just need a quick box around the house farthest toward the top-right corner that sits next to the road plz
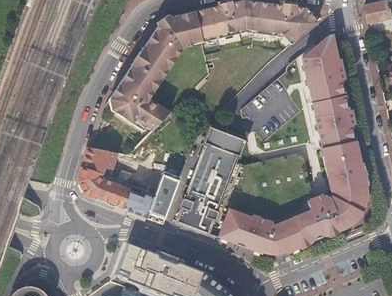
[364,0,392,26]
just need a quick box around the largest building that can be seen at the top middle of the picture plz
[111,1,317,130]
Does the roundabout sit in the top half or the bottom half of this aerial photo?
bottom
